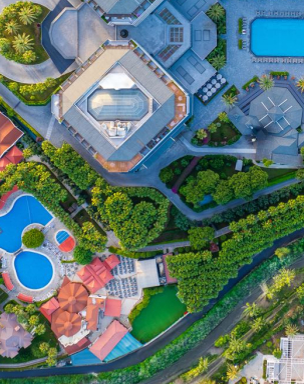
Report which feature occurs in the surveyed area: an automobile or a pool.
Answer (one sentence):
The one in the frame is a pool.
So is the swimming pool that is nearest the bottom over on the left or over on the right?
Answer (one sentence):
It is on the left.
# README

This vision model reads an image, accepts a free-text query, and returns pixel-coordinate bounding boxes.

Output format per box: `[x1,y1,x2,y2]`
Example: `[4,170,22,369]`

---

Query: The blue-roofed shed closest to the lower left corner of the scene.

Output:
[71,349,104,366]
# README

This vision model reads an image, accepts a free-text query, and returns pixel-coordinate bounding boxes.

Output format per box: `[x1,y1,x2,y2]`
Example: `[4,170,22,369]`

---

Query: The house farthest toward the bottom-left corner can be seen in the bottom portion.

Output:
[0,310,39,360]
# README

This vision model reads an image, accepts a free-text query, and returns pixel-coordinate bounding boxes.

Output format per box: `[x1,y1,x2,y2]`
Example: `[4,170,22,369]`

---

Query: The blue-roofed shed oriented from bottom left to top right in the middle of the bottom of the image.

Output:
[104,329,144,362]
